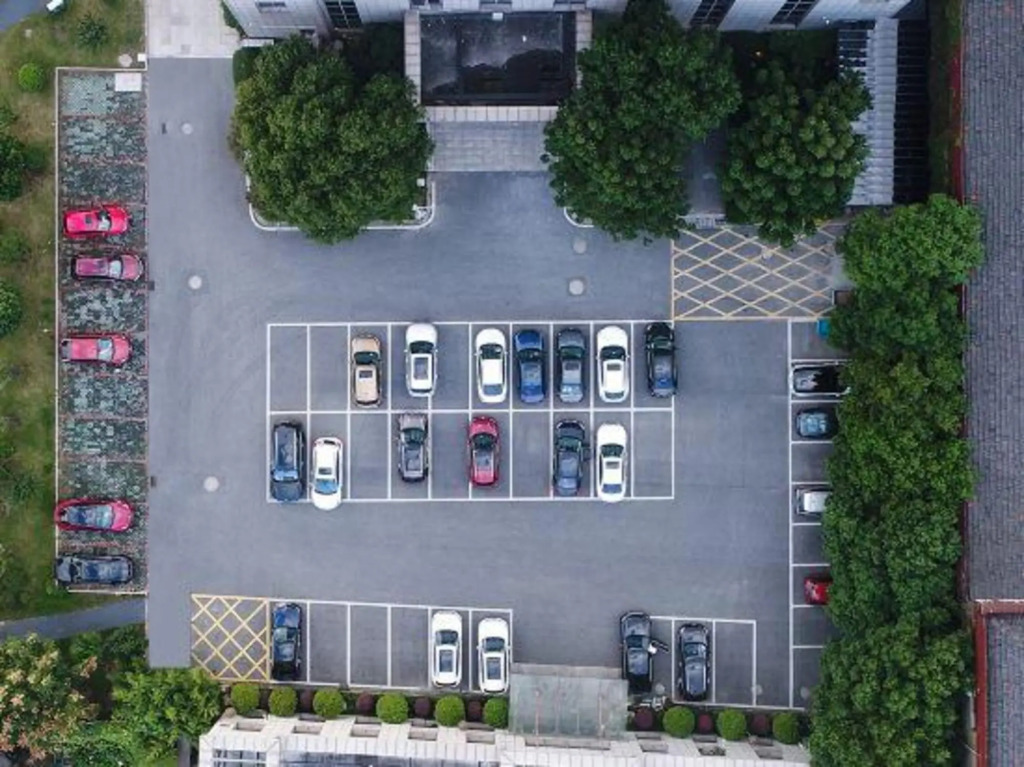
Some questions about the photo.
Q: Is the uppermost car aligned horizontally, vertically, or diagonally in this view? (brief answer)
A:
horizontally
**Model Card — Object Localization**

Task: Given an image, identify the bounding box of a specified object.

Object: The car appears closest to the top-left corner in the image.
[62,204,132,240]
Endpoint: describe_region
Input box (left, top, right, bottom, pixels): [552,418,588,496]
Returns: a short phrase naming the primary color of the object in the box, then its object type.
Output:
blue car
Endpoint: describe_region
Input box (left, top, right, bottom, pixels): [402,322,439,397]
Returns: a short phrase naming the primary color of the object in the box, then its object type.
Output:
white car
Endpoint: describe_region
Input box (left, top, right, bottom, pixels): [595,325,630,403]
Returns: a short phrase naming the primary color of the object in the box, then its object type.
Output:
white car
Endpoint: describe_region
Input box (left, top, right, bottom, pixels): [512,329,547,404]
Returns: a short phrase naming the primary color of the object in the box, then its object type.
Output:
blue car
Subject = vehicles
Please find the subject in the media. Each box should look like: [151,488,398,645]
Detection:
[638,695,667,708]
[466,414,503,487]
[428,610,464,687]
[402,322,439,397]
[474,616,511,693]
[594,422,629,502]
[348,334,384,406]
[788,364,859,397]
[473,328,509,404]
[267,600,305,681]
[60,332,133,367]
[792,408,859,439]
[674,622,711,700]
[618,611,666,694]
[595,325,630,403]
[512,329,547,404]
[62,204,132,240]
[68,249,145,285]
[394,410,431,483]
[643,322,679,399]
[308,435,344,511]
[269,421,307,501]
[552,418,588,496]
[793,484,853,516]
[553,329,588,404]
[55,498,136,534]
